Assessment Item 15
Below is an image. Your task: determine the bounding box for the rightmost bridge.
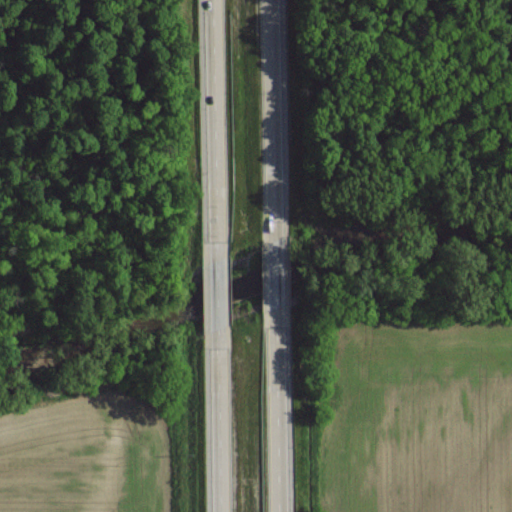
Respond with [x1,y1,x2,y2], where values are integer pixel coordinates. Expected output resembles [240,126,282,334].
[262,243,292,328]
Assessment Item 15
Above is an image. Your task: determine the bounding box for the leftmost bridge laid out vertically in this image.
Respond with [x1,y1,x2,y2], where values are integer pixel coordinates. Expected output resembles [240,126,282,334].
[202,242,232,348]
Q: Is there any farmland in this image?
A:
Yes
